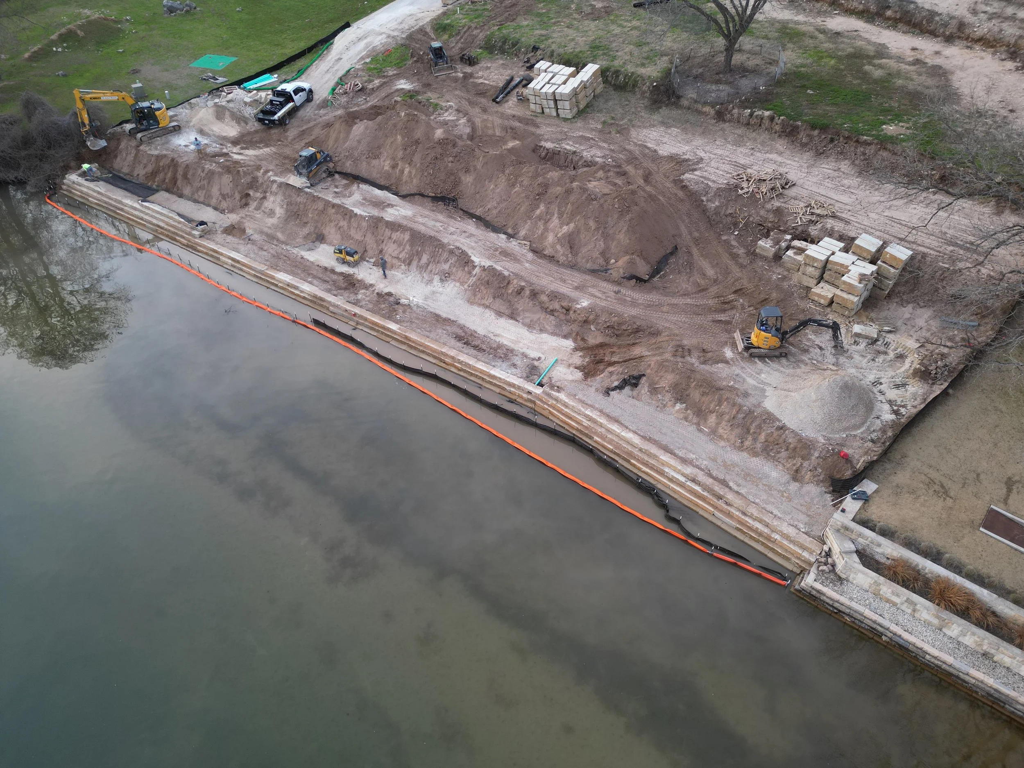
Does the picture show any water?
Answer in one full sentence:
Yes, the picture does contain water.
